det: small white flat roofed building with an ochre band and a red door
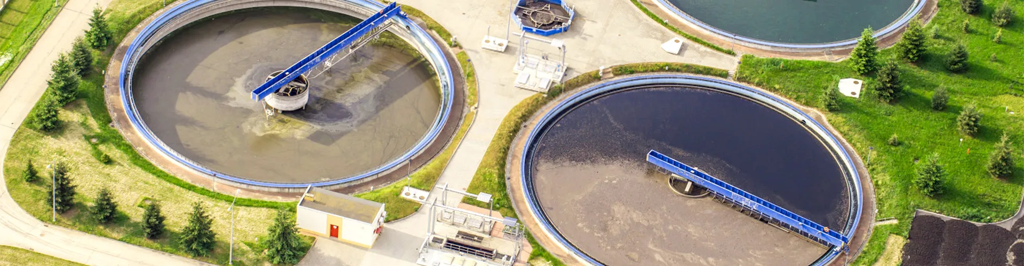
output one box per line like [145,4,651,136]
[297,183,385,248]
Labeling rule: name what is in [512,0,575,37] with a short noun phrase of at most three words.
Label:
storage tank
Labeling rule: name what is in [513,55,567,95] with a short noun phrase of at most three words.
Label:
building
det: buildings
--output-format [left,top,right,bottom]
[297,183,385,248]
[513,55,567,95]
[415,210,521,266]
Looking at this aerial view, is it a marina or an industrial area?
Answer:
industrial area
